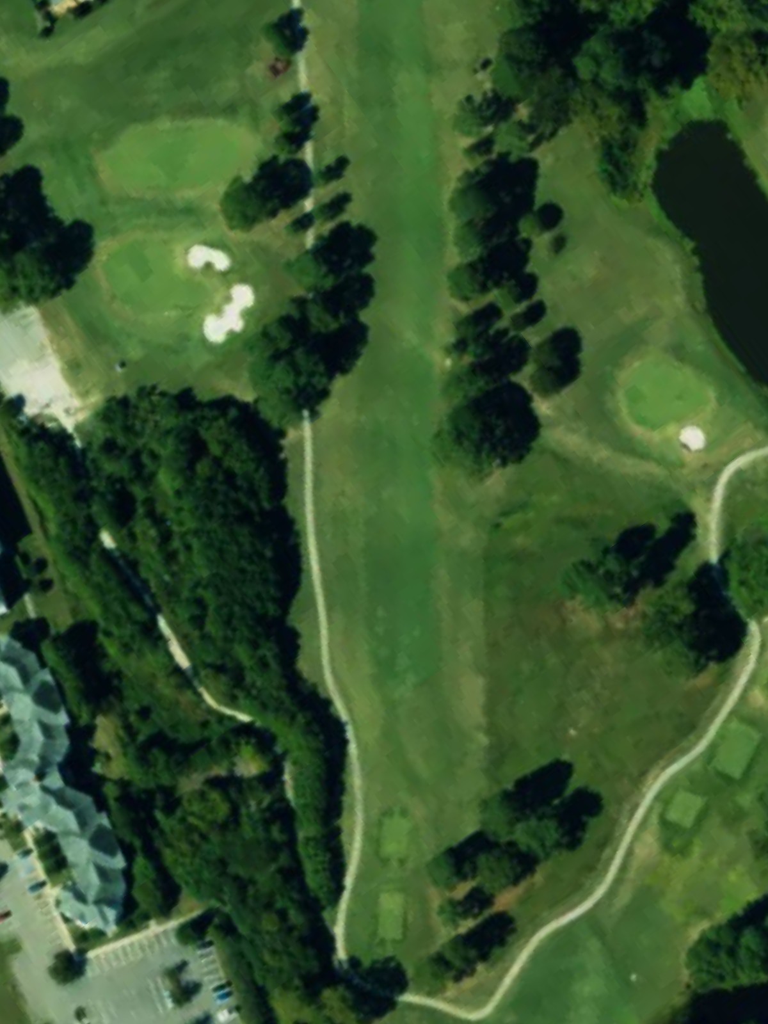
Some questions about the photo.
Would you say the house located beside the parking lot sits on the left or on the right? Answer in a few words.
left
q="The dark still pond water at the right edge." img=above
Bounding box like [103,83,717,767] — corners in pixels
[653,119,768,388]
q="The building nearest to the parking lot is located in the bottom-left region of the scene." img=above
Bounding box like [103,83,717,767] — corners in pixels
[0,633,128,939]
